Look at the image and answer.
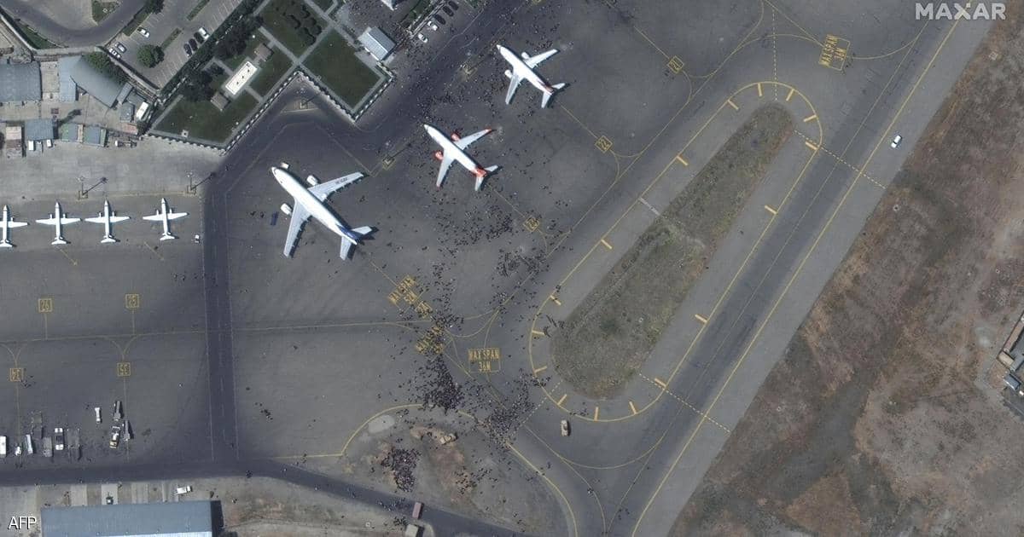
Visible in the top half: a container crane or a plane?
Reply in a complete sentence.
What appears in the top half is a plane.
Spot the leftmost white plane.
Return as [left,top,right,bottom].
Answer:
[0,206,27,246]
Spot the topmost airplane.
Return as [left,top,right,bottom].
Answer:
[497,45,567,107]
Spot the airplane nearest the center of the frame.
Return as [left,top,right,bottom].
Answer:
[424,124,498,189]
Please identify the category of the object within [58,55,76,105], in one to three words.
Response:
building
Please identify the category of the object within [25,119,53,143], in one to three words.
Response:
building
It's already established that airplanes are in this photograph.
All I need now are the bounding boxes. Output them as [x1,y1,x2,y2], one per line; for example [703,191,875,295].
[272,167,372,258]
[424,124,498,189]
[144,199,187,239]
[86,201,129,241]
[497,45,567,107]
[0,206,27,246]
[36,203,80,243]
